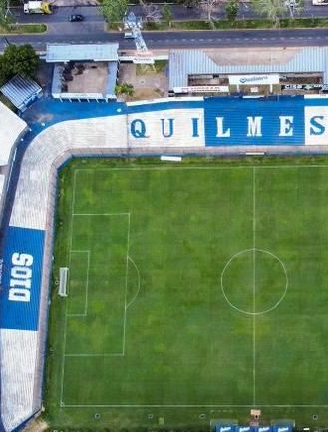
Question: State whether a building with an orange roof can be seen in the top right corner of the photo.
No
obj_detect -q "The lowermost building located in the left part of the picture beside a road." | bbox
[46,43,123,104]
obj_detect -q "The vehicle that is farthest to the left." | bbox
[23,1,52,14]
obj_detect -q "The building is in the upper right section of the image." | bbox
[170,46,328,97]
